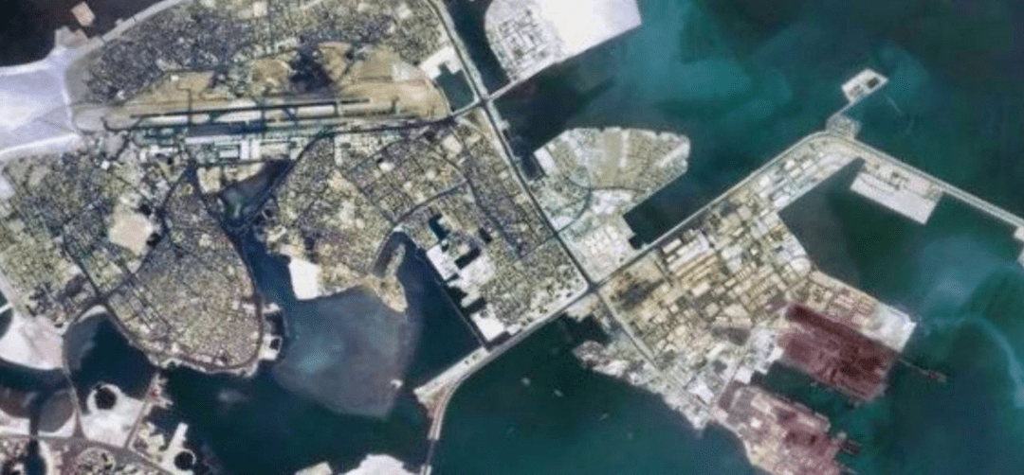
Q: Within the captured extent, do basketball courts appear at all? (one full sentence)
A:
No, the frame has no basketball court in it.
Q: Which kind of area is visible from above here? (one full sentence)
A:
This image shows a port.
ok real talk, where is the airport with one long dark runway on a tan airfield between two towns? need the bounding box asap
[68,40,449,163]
